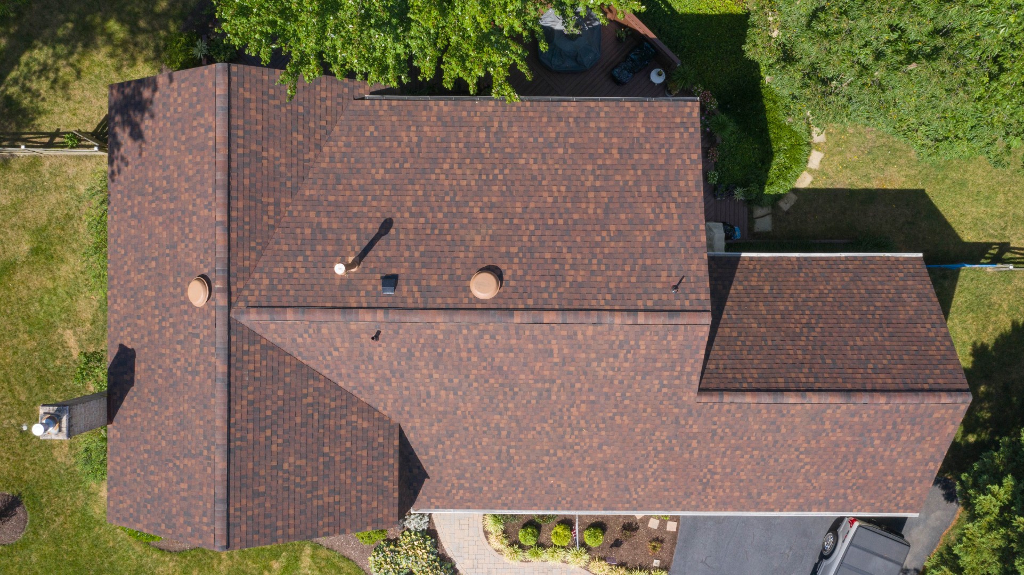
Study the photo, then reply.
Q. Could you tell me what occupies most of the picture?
buildings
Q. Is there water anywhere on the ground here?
No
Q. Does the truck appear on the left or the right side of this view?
right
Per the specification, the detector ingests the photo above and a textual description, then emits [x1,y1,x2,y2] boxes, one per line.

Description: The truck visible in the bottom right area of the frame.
[809,517,911,575]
